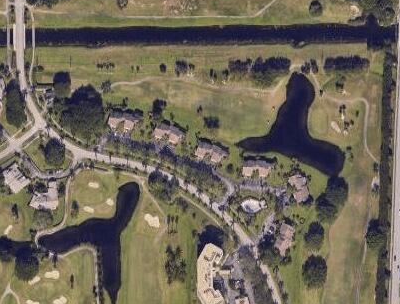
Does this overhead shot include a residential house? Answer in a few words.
Yes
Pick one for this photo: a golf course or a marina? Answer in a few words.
golf course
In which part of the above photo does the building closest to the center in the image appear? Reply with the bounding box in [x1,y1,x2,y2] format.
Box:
[197,140,230,166]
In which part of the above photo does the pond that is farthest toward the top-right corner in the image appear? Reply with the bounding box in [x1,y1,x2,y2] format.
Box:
[237,72,344,177]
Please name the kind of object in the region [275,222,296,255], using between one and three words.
house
